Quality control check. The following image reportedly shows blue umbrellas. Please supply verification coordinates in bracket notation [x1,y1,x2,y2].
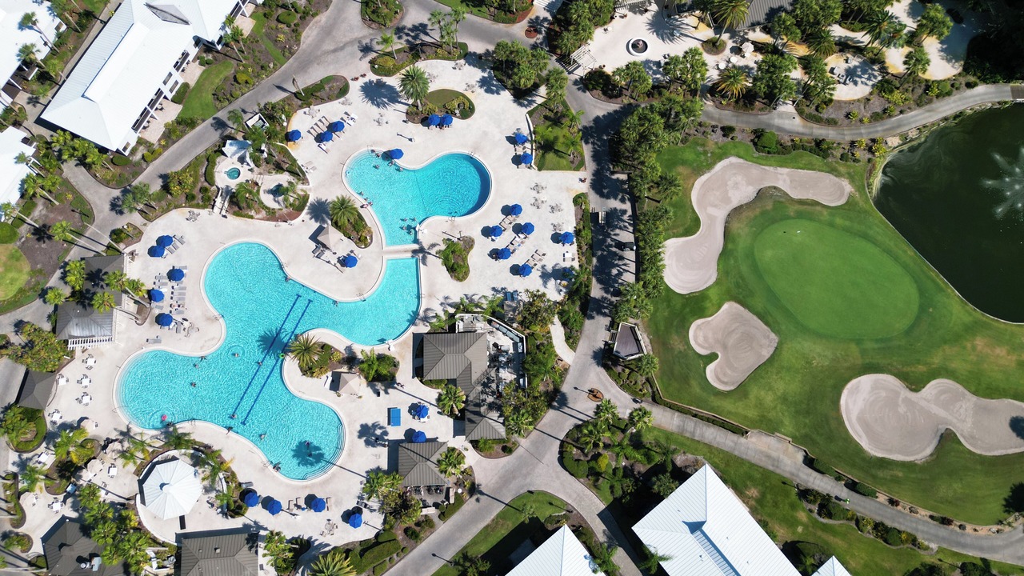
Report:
[497,247,510,260]
[521,222,535,236]
[331,120,344,133]
[150,245,164,258]
[412,429,427,443]
[519,263,533,277]
[150,289,164,302]
[158,234,172,248]
[344,255,358,268]
[560,232,574,245]
[390,148,403,161]
[288,129,301,142]
[157,313,172,326]
[520,153,532,165]
[415,404,429,418]
[244,491,259,507]
[169,268,182,281]
[348,512,363,528]
[320,131,333,144]
[311,497,326,512]
[267,499,282,515]
[510,204,522,216]
[489,225,503,238]
[441,114,454,127]
[428,114,441,126]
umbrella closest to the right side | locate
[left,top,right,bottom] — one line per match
[741,40,755,55]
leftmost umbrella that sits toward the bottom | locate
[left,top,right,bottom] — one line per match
[19,490,39,507]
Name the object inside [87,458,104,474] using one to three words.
umbrella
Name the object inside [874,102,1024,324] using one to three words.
pond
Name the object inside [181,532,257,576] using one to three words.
house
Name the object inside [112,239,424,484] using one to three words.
swimming pool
